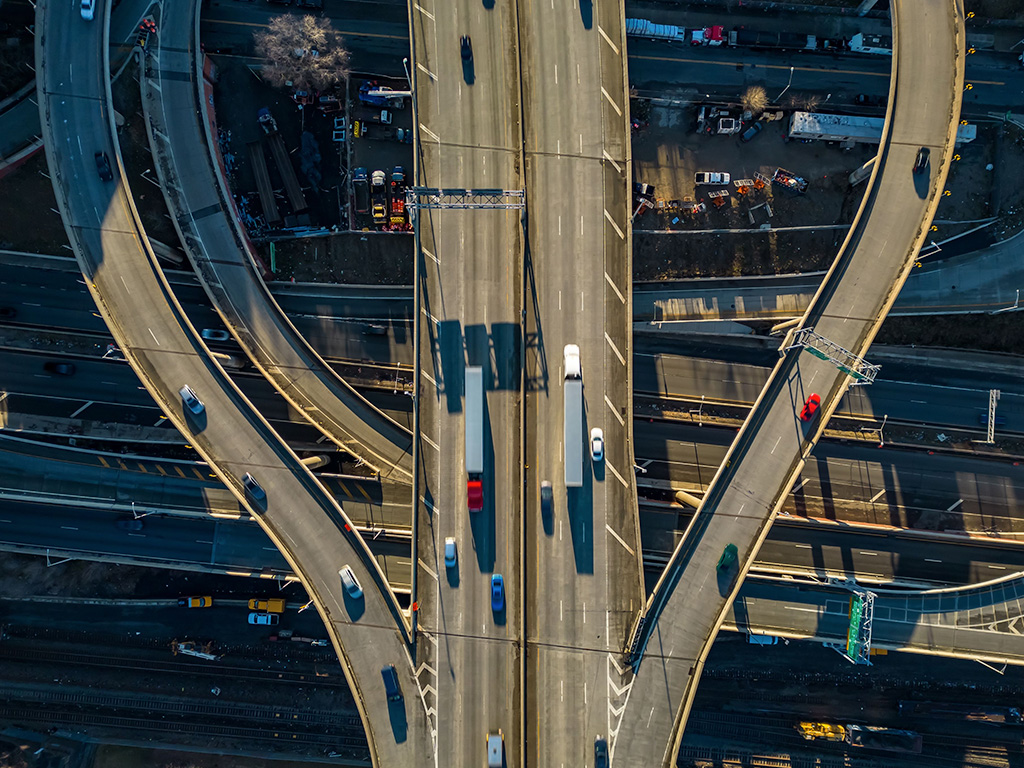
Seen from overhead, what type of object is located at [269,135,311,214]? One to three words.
trailer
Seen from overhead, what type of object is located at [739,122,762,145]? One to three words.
car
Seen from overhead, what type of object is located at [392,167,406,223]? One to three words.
vehicle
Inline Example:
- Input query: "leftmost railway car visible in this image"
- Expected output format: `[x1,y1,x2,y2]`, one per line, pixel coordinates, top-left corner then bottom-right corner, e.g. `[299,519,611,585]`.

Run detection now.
[794,721,844,740]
